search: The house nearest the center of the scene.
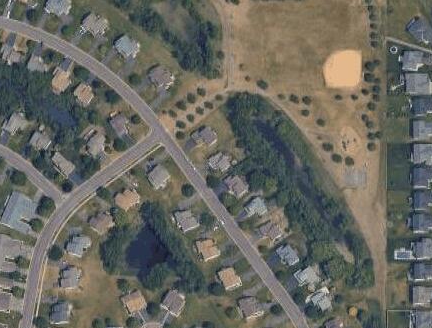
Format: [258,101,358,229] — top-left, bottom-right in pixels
[211,150,232,174]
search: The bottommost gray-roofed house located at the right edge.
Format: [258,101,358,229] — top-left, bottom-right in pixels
[409,311,432,328]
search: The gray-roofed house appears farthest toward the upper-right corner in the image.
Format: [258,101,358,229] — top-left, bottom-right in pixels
[407,17,432,46]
